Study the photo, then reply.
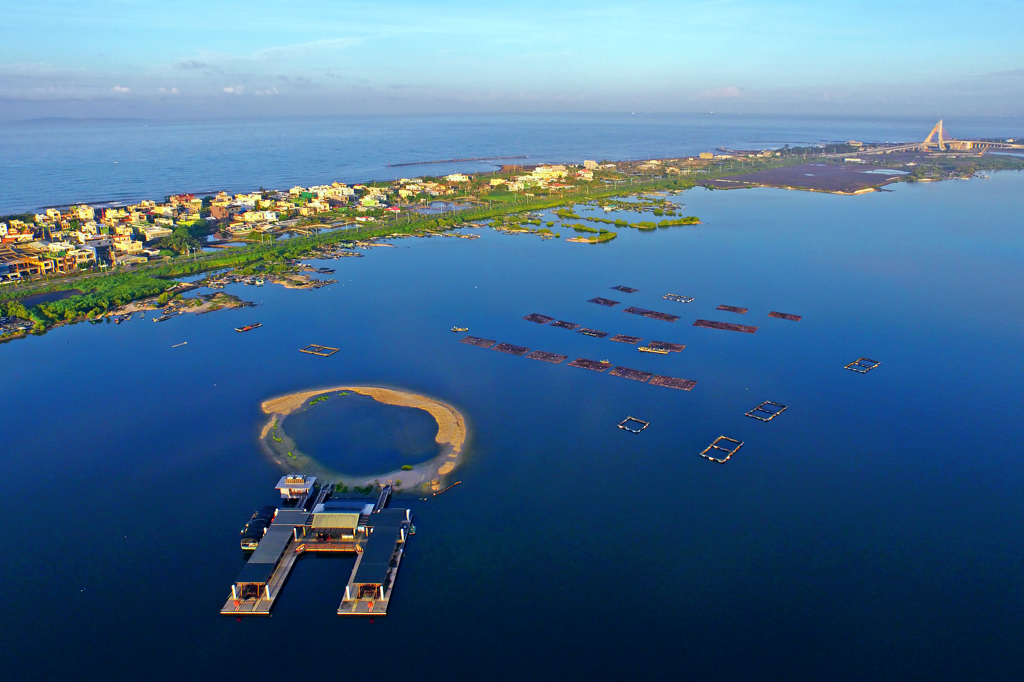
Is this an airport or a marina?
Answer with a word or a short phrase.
marina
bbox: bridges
[822,120,1024,157]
